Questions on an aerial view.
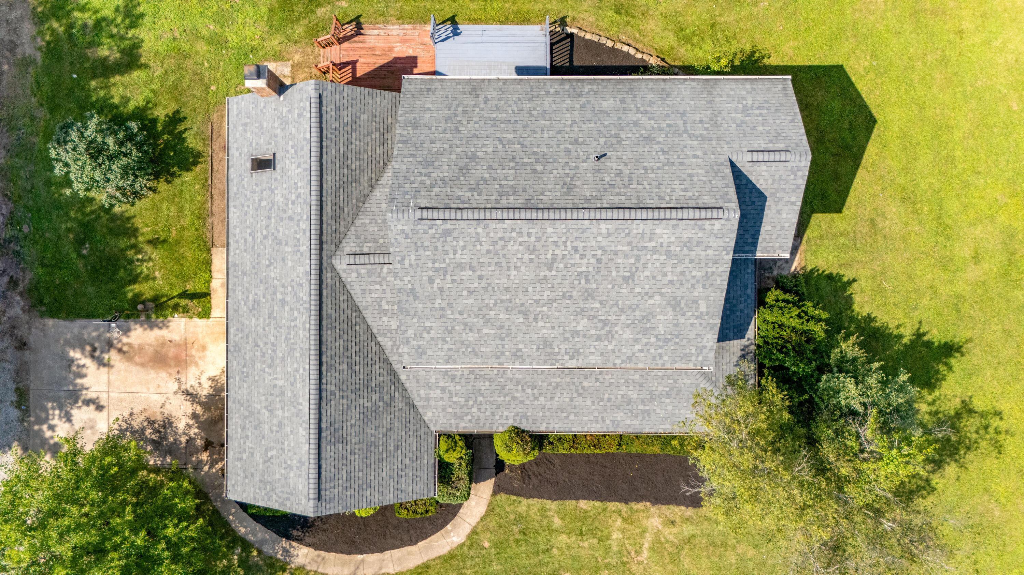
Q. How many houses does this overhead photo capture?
one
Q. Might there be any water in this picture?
No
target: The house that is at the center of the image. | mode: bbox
[226,62,811,517]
